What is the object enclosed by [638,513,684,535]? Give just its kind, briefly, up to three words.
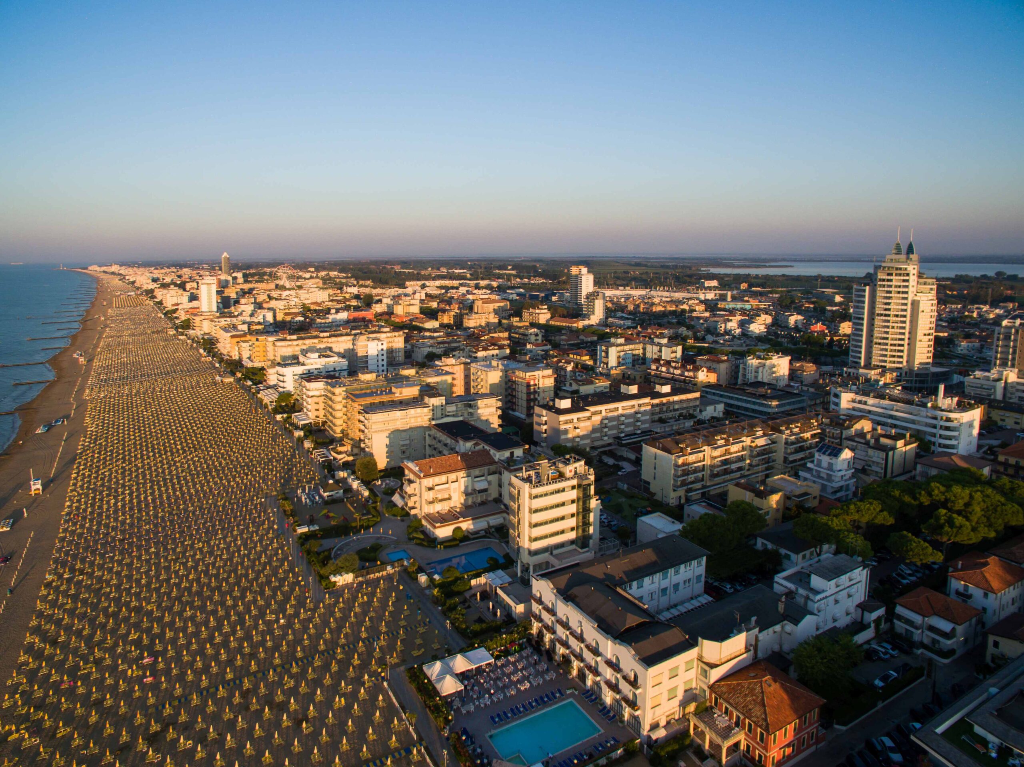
building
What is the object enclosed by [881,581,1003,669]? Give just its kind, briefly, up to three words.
house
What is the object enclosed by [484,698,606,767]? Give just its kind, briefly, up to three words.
swimming pool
